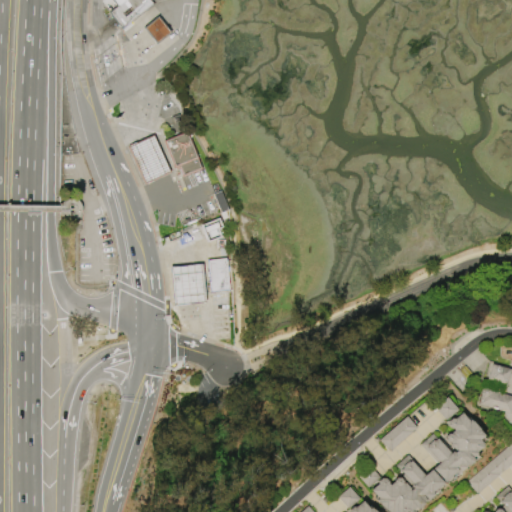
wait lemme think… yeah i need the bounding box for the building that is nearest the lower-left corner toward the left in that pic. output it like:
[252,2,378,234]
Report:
[173,262,208,304]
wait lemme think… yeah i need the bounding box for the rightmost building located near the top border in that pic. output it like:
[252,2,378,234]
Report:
[147,18,172,42]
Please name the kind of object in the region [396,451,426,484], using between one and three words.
house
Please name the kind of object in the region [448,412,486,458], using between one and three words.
house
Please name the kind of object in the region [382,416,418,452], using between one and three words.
building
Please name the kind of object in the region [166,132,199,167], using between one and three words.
building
